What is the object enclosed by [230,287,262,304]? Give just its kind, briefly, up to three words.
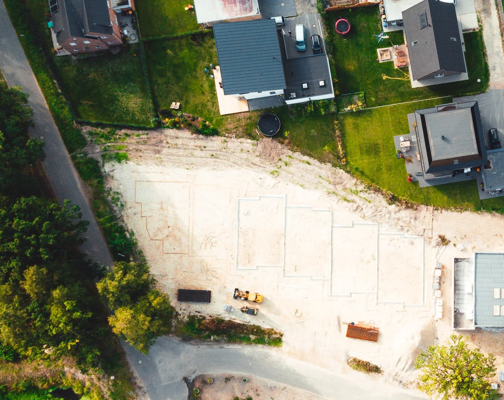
work vehicle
